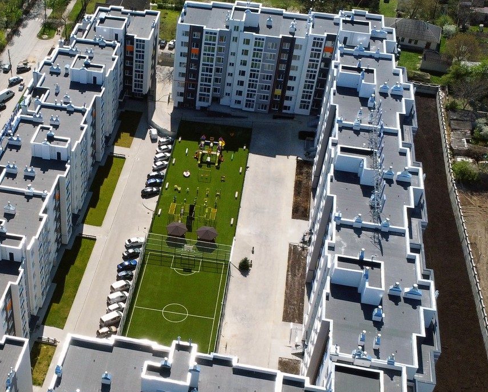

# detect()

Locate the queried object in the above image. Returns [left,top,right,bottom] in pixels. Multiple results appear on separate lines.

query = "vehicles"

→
[155,144,171,153]
[123,237,143,249]
[108,277,130,292]
[15,65,32,74]
[150,128,157,140]
[0,86,16,101]
[116,258,137,270]
[106,299,125,309]
[157,137,173,145]
[107,289,128,303]
[144,177,165,186]
[3,66,11,73]
[122,249,140,260]
[8,76,23,86]
[114,269,134,279]
[147,170,166,179]
[96,306,125,325]
[95,323,116,337]
[151,160,169,170]
[0,101,8,109]
[152,151,171,162]
[140,185,161,197]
